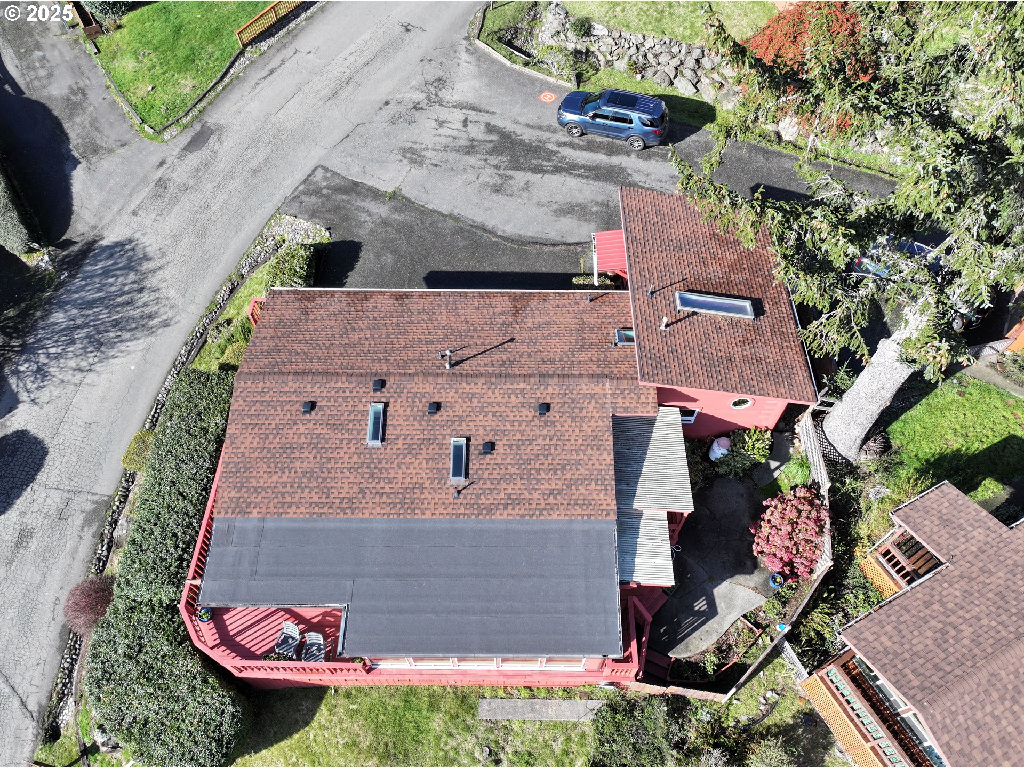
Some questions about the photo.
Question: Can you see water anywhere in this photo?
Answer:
No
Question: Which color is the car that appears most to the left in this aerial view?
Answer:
blue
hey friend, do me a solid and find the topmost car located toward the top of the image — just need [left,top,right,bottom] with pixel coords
[554,83,671,149]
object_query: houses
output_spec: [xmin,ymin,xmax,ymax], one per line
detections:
[819,481,1024,768]
[197,186,821,675]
